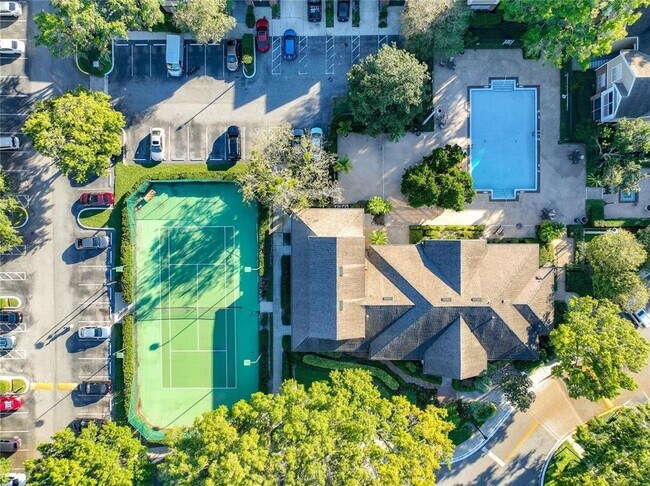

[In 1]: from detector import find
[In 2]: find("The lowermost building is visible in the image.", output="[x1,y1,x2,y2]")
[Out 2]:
[290,208,554,381]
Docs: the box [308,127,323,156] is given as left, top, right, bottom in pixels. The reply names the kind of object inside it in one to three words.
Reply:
car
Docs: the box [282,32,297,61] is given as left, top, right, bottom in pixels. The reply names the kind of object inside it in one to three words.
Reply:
car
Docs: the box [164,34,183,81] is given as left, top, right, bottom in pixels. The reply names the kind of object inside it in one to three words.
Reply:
vehicle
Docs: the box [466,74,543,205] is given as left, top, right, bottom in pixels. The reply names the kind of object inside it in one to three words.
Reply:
swimming pool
